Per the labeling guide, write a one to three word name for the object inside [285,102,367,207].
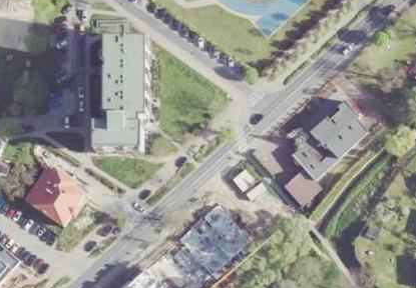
building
